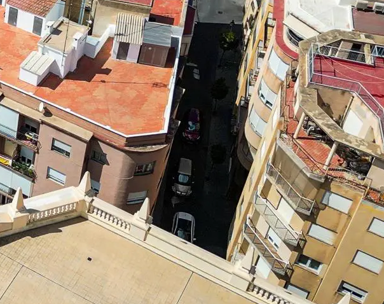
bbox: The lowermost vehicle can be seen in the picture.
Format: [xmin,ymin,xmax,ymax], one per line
[172,207,198,249]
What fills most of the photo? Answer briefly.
buildings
